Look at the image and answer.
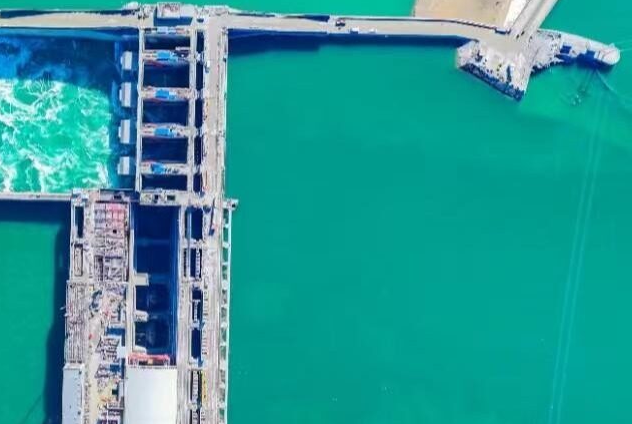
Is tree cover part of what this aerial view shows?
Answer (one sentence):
No, no tree cover is visible.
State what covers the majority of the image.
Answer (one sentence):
For the most part, this view shows water.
